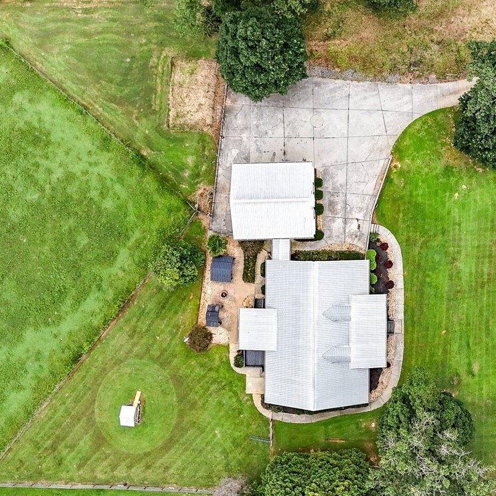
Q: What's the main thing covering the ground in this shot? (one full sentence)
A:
The largest share of the image is taken up by grass.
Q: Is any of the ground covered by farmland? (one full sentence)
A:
Yes, there's farmland in this view.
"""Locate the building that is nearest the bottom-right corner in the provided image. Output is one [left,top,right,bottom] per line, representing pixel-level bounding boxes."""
[238,260,388,411]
